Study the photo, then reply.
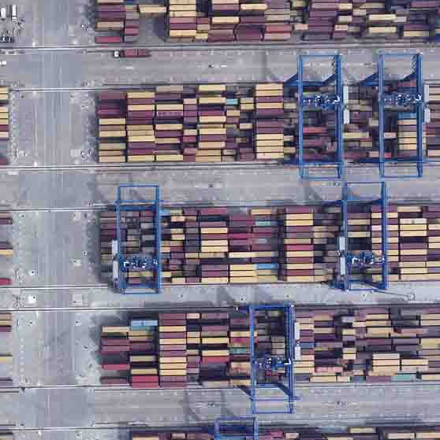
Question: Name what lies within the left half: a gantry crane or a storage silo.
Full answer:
There is a gantry crane within the left half.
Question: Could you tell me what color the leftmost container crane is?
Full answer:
The color of the leftmost container crane is blue.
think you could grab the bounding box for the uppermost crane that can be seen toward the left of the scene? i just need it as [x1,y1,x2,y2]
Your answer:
[110,185,163,294]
